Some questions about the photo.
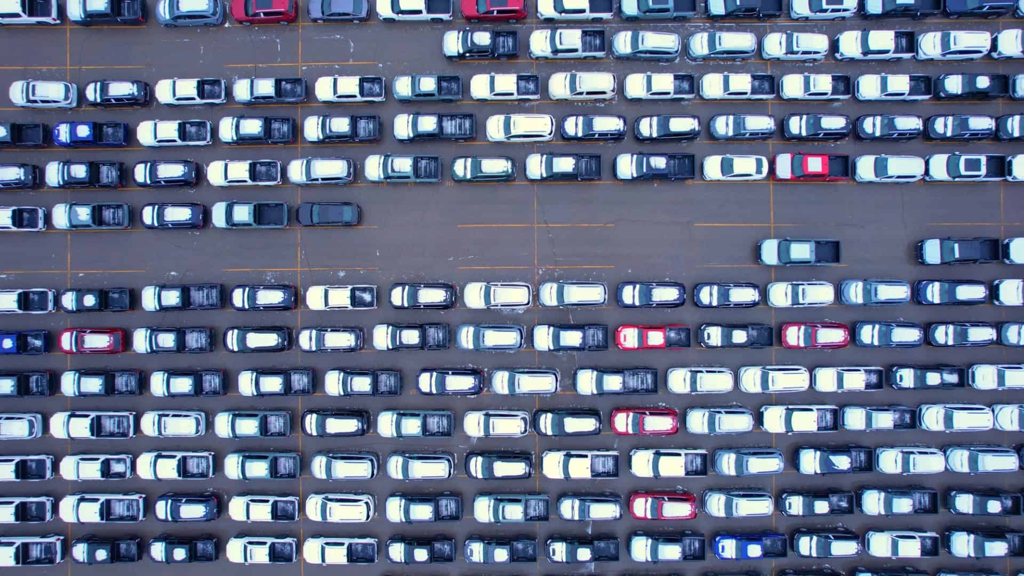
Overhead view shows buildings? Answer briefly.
No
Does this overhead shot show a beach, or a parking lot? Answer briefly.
parking lot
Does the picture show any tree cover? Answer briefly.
No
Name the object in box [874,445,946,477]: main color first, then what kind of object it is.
white car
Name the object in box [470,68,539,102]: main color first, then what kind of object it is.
white truck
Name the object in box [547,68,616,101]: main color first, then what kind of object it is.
white car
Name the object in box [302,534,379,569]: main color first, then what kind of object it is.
white truck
